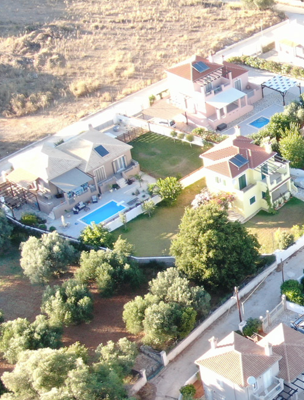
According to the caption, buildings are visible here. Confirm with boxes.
[272,19,304,63]
[165,54,264,123]
[6,122,132,217]
[204,126,294,213]
[194,321,304,400]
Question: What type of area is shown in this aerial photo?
residential area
